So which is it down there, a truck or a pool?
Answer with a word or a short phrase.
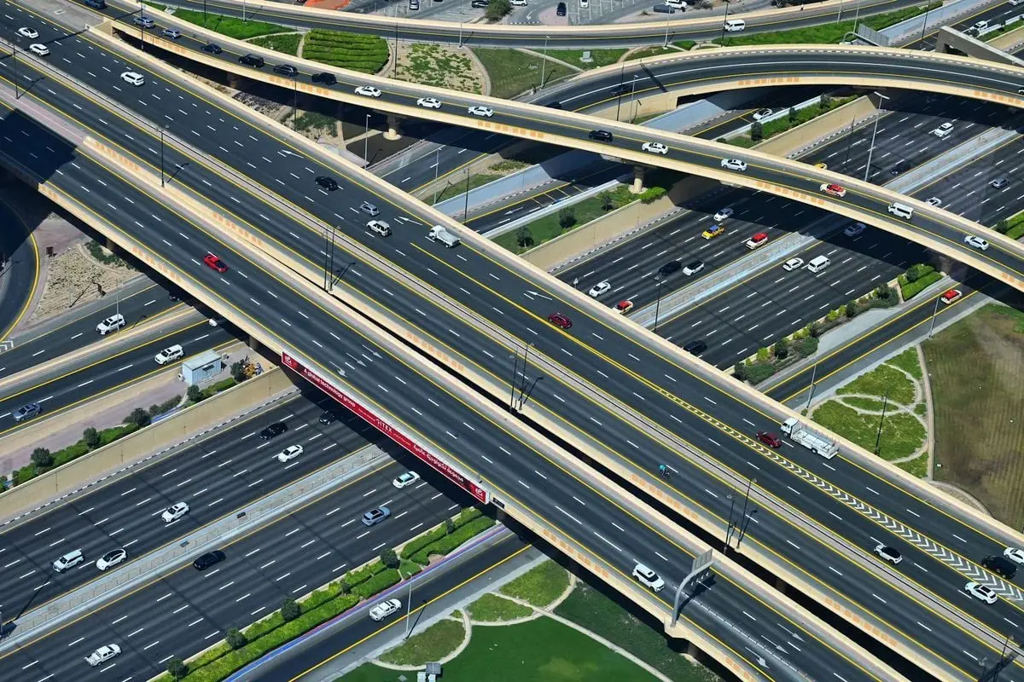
truck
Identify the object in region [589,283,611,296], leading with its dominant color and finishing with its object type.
white vehicle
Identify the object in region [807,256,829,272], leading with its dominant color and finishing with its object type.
white vehicle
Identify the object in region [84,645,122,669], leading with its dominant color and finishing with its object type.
white truck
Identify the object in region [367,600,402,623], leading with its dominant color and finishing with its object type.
white truck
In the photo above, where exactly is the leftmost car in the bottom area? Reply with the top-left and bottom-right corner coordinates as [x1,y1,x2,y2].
[12,402,42,421]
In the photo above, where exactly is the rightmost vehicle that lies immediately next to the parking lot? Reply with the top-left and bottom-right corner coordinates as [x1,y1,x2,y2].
[725,19,745,31]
